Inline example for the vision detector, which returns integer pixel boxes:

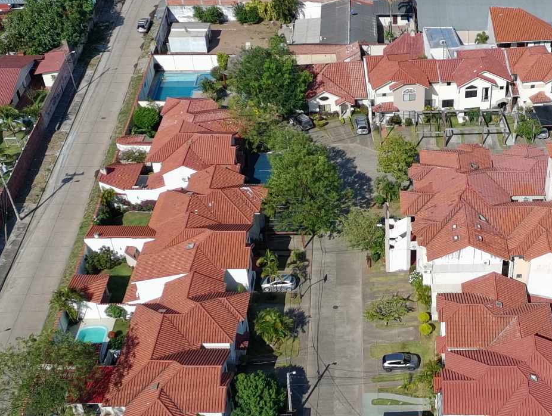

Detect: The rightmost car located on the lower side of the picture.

[379,350,422,374]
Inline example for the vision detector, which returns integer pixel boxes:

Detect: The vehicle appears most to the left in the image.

[137,18,151,34]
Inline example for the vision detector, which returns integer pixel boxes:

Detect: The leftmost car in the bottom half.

[261,274,296,293]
